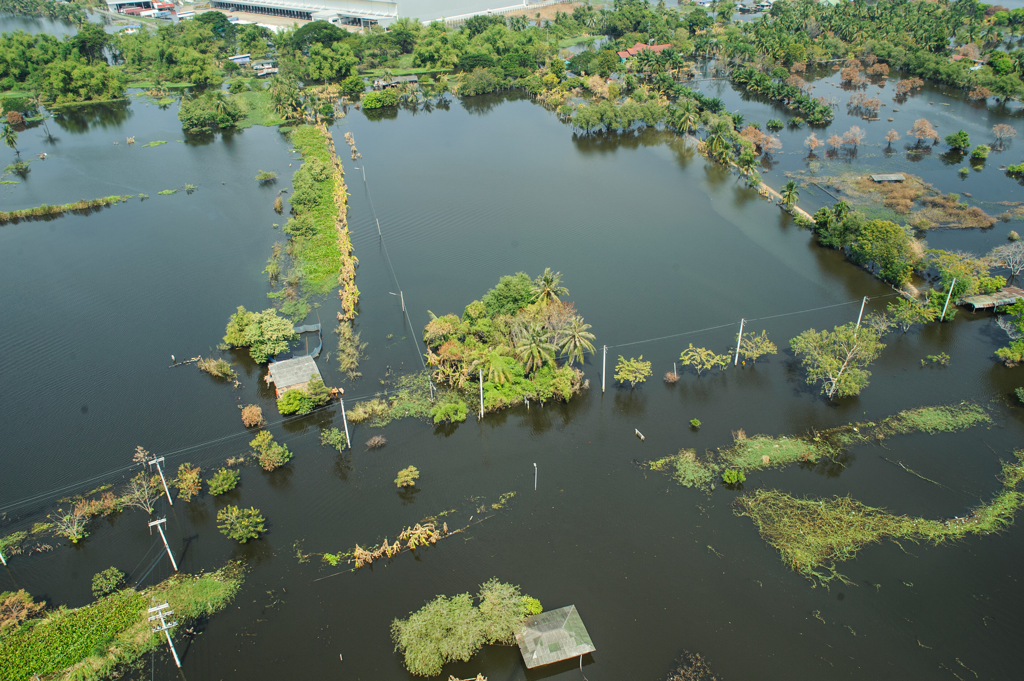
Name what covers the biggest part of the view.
water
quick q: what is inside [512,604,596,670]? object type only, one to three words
house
